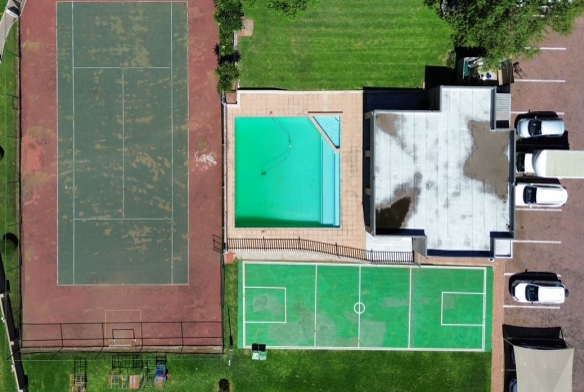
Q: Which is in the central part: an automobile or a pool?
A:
pool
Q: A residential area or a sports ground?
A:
sports ground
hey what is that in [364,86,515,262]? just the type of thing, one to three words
building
